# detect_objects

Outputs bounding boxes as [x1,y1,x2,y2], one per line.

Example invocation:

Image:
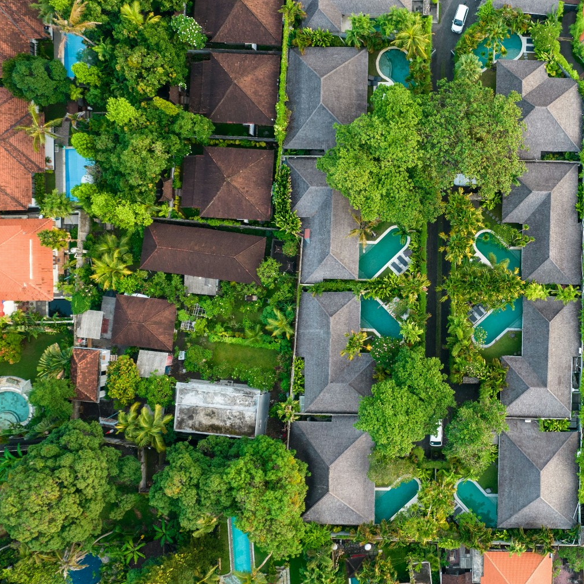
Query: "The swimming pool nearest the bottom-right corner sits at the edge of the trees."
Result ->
[456,479,498,529]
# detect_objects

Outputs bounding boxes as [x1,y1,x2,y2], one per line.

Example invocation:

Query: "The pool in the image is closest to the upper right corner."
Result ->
[472,30,525,71]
